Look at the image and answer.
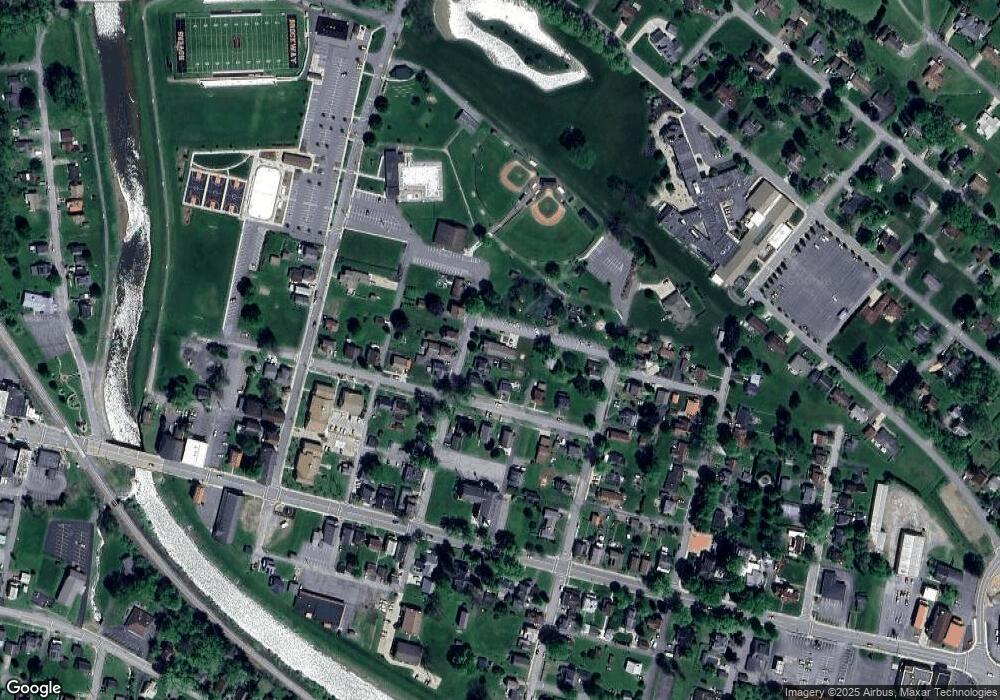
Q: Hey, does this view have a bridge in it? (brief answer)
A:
Yes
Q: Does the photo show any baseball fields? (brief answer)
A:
Yes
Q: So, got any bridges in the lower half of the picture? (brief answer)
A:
Yes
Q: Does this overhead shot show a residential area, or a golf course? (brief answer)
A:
residential area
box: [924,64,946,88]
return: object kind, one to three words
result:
house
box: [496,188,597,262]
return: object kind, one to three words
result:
baseball field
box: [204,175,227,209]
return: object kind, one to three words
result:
basketball court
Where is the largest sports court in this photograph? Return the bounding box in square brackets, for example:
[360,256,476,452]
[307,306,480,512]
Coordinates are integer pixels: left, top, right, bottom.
[249,166,281,220]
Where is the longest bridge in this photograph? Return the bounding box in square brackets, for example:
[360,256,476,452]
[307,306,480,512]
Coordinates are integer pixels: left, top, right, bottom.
[85,438,166,474]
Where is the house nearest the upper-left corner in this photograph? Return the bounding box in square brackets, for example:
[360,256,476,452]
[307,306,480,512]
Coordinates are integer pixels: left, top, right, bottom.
[3,80,24,104]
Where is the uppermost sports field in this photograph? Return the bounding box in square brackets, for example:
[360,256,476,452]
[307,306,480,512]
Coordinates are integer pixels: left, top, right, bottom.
[173,11,302,78]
